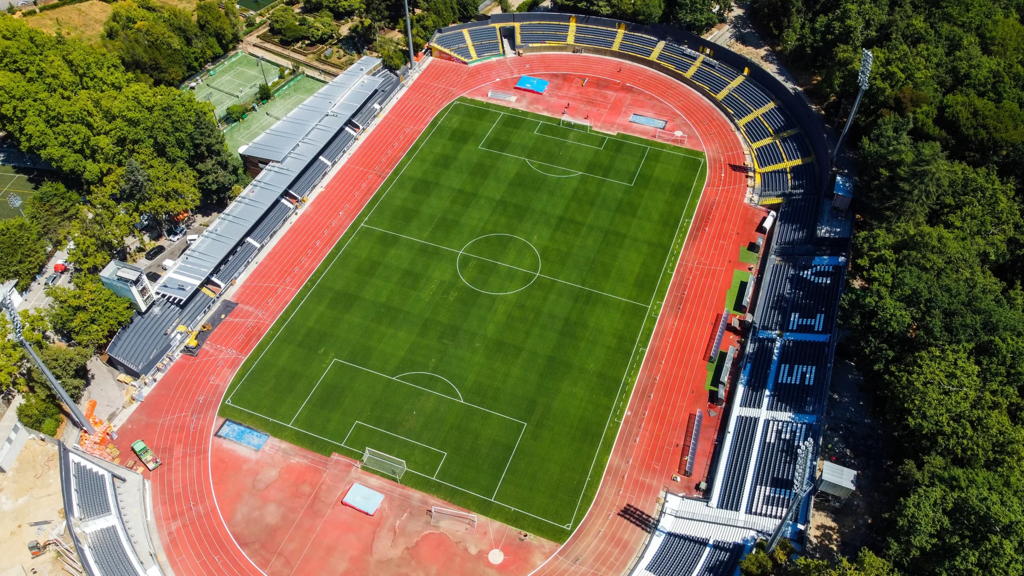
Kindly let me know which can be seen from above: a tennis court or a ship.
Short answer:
tennis court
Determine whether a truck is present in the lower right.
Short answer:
No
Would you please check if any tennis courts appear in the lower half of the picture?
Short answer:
No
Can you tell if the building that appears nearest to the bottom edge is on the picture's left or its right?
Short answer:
right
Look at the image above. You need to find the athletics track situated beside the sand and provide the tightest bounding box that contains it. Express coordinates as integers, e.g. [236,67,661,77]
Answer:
[109,53,781,576]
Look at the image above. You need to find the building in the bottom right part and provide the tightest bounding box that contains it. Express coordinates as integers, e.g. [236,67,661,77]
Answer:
[816,461,857,511]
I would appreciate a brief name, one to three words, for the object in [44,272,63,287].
car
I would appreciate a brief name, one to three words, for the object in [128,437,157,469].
truck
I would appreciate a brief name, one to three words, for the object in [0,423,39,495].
building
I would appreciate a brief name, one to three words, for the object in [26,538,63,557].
work vehicle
